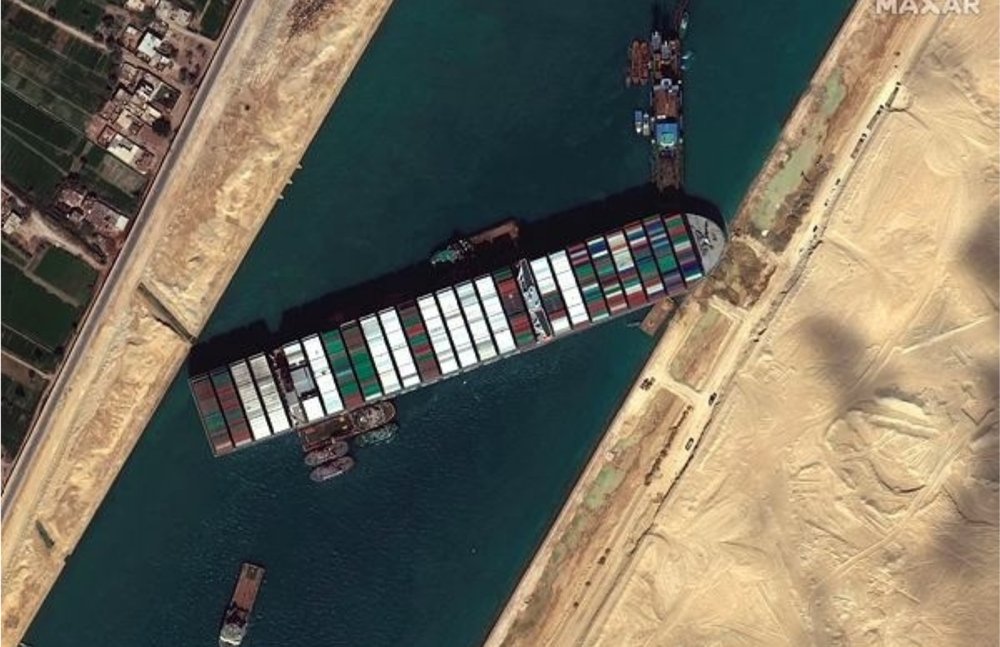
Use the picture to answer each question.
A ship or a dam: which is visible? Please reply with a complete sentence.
The one in the frame is a ship.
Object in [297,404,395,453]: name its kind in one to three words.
ship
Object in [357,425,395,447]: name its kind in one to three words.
boat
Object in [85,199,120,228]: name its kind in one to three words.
house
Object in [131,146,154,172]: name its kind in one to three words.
house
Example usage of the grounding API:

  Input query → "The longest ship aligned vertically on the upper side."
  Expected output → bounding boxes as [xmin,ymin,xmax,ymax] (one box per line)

[649,30,684,187]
